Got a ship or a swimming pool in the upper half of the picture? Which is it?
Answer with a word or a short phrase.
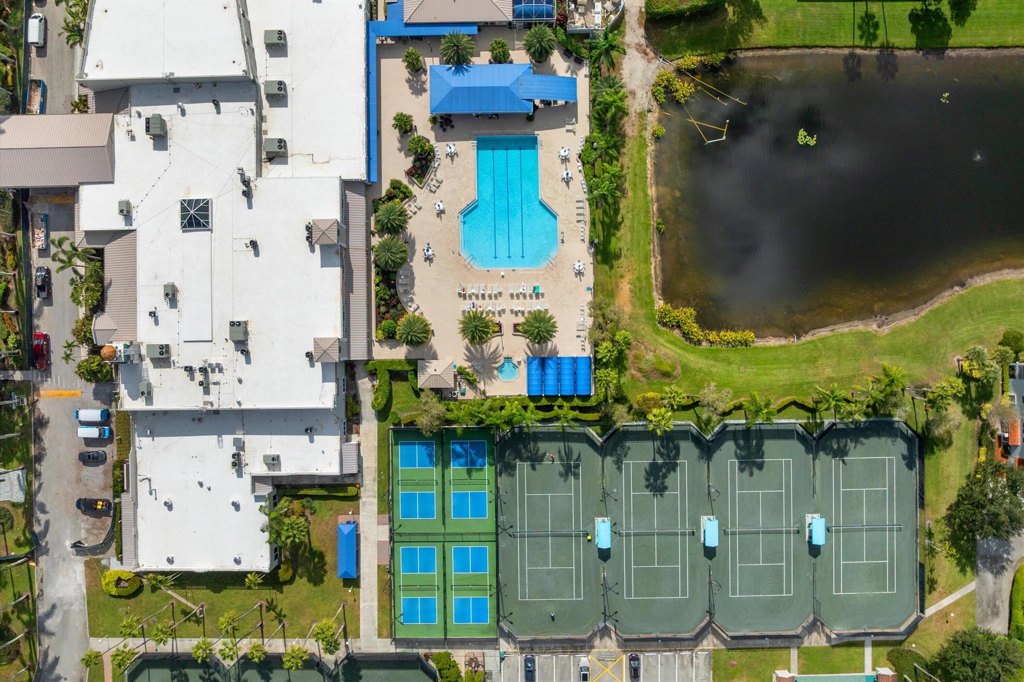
swimming pool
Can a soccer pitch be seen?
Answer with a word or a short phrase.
No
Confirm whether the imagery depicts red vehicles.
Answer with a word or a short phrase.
Yes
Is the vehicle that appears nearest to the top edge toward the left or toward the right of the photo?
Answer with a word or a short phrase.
left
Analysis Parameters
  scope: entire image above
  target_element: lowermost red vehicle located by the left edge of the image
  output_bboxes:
[32,333,51,370]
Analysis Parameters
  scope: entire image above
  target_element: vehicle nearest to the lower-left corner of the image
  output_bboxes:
[77,498,113,513]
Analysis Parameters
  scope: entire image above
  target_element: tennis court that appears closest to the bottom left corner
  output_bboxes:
[124,653,226,682]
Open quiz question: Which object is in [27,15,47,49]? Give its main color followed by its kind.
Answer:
white vehicle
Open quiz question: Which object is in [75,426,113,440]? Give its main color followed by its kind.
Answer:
white vehicle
